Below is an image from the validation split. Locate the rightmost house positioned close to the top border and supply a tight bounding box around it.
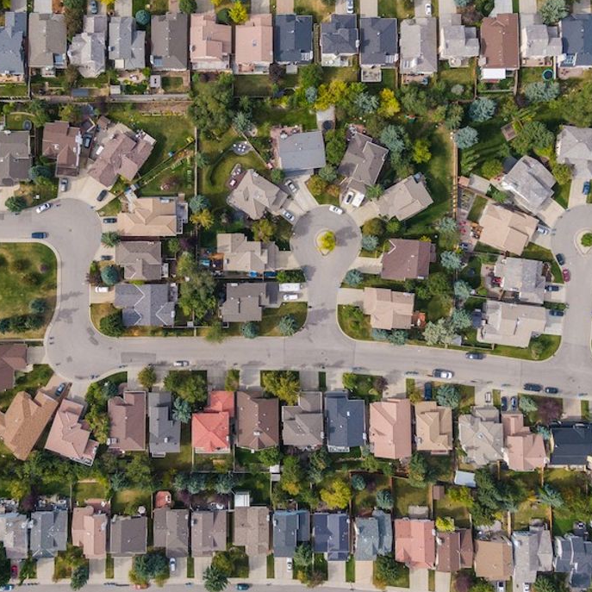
[552,12,592,78]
